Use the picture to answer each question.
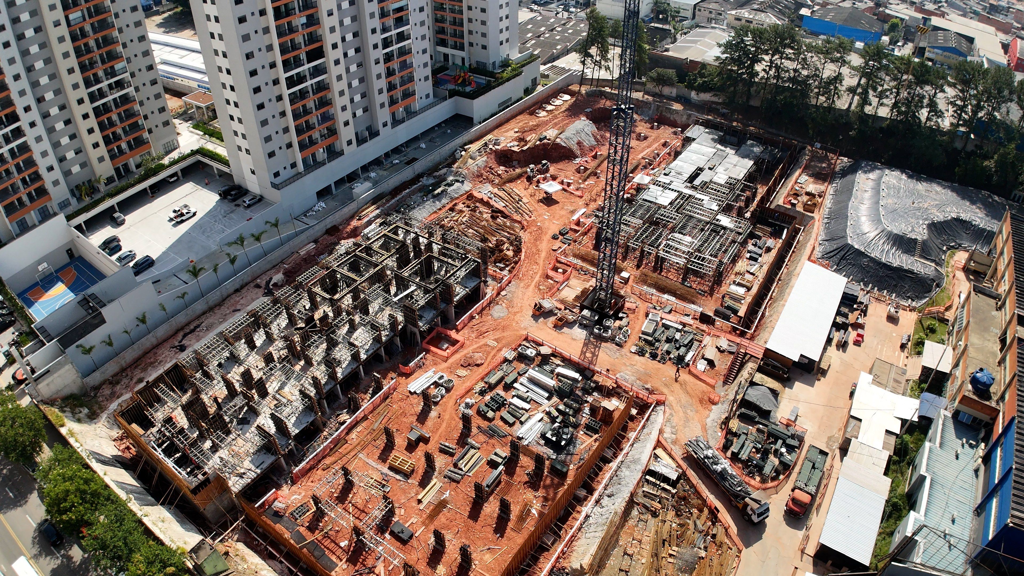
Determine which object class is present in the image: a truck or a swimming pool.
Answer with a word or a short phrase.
truck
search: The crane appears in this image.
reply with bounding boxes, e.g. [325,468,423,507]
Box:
[580,0,645,327]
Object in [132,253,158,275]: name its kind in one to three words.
car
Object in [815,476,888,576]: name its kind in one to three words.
shed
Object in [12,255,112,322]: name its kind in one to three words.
sports court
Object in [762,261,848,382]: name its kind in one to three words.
shed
